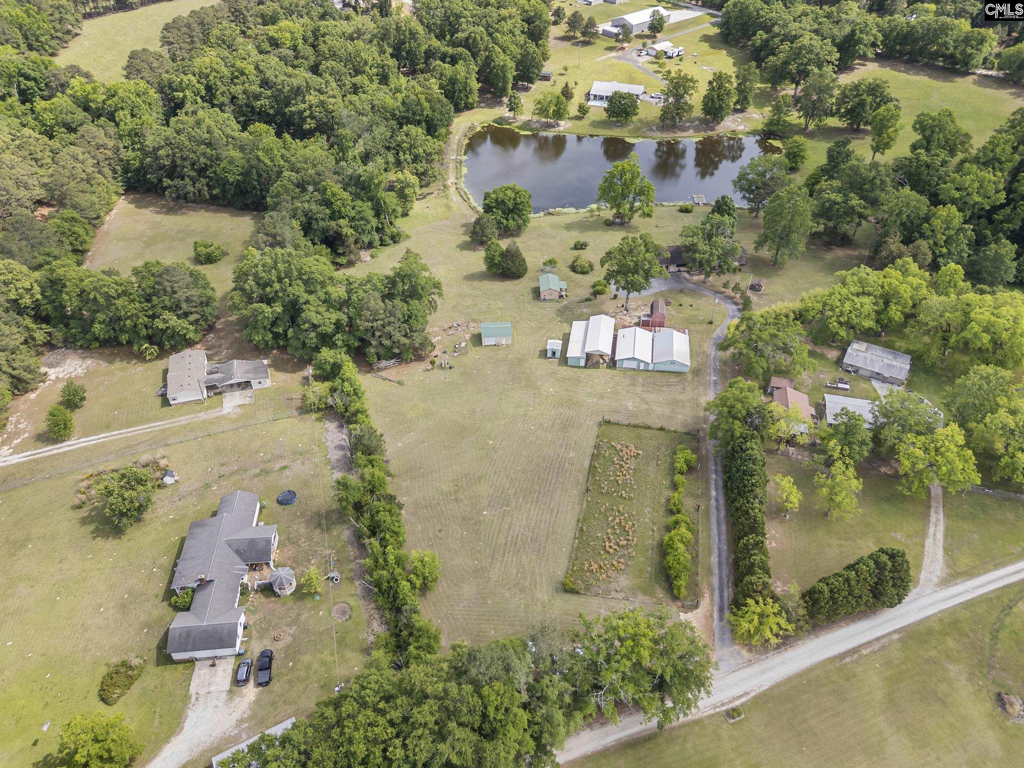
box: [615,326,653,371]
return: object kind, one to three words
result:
barn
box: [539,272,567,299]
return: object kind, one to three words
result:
building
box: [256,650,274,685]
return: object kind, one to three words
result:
vehicle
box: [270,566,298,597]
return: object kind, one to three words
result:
gazebo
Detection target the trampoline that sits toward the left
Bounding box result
[277,488,296,504]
